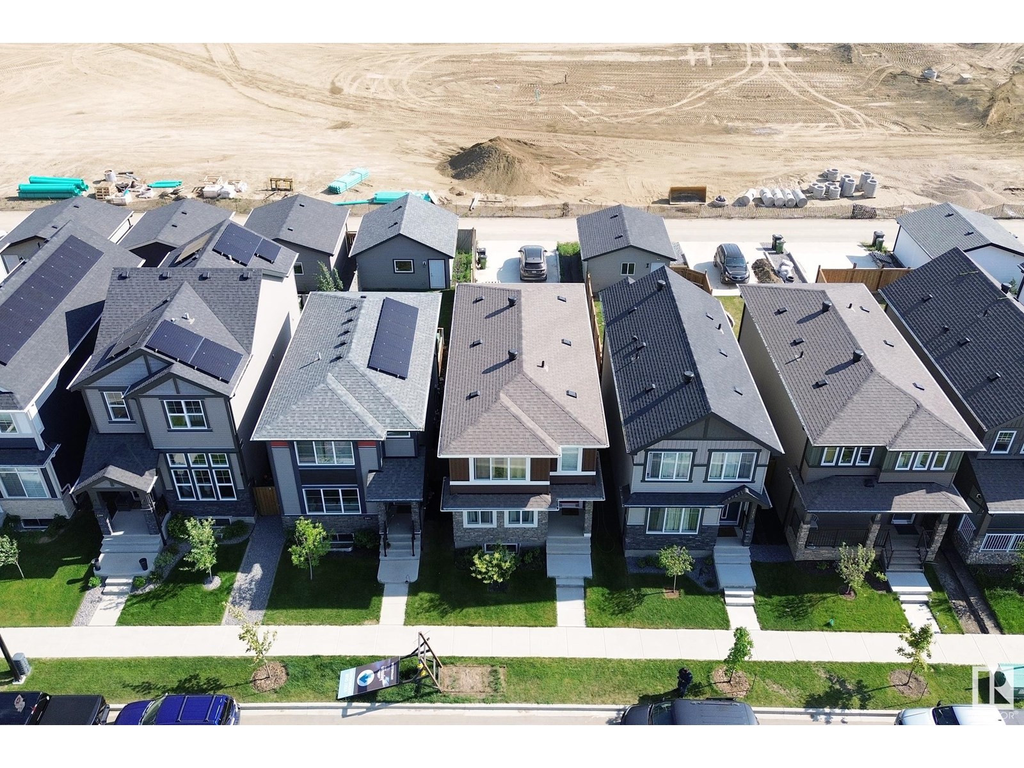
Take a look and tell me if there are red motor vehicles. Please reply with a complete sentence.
No, no red motor vehicle can be seen from above.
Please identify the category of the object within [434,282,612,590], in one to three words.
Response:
house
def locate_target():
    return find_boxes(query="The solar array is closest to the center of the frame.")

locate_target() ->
[370,296,420,379]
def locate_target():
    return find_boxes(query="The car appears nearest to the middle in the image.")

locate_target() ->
[517,239,549,273]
